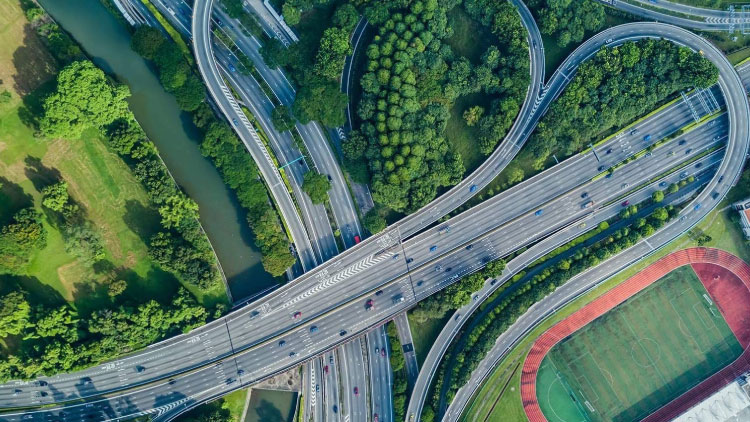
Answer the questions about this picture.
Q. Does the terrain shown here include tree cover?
Yes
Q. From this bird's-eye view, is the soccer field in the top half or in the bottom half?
bottom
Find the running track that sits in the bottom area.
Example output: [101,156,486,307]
[520,247,750,422]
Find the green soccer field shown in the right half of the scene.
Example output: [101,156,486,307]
[546,264,746,422]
